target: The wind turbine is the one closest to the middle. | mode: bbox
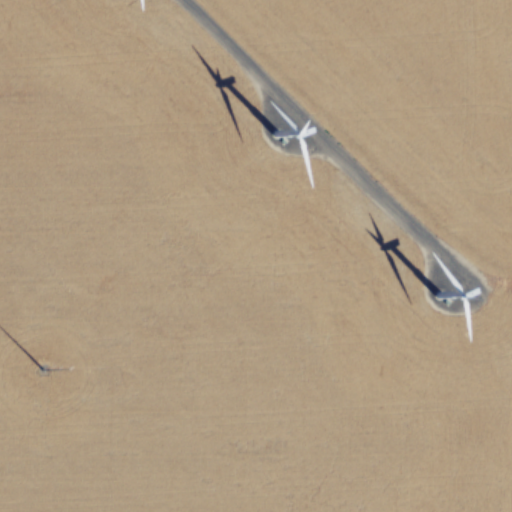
[270,100,318,188]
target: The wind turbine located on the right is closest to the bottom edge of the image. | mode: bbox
[434,252,482,340]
